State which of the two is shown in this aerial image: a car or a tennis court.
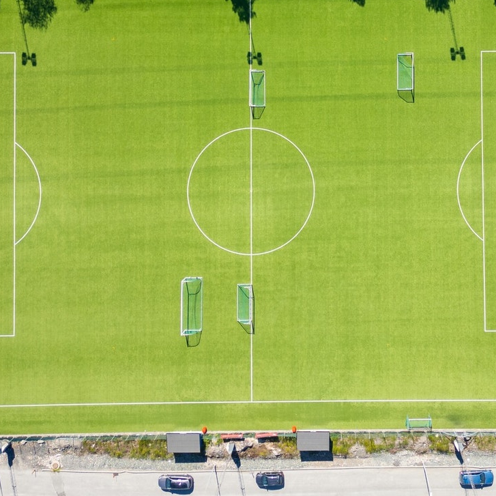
car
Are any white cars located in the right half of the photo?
No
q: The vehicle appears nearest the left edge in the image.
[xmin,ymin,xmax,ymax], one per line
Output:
[159,473,194,490]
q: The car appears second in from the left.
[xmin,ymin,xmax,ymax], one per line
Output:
[256,471,286,487]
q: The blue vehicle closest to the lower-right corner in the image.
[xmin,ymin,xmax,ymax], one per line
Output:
[459,468,493,486]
